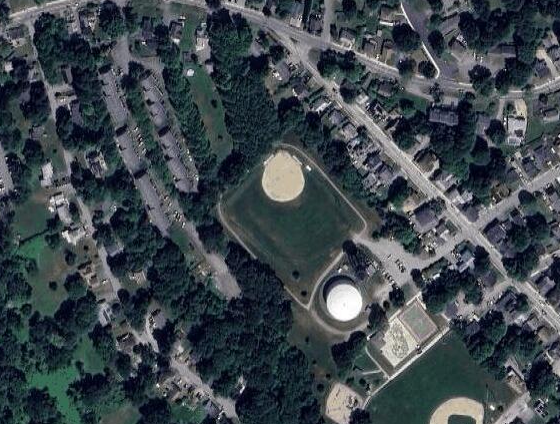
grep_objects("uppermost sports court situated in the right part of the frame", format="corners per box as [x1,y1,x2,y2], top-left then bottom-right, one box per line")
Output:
[398,299,438,342]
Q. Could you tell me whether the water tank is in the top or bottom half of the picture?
bottom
